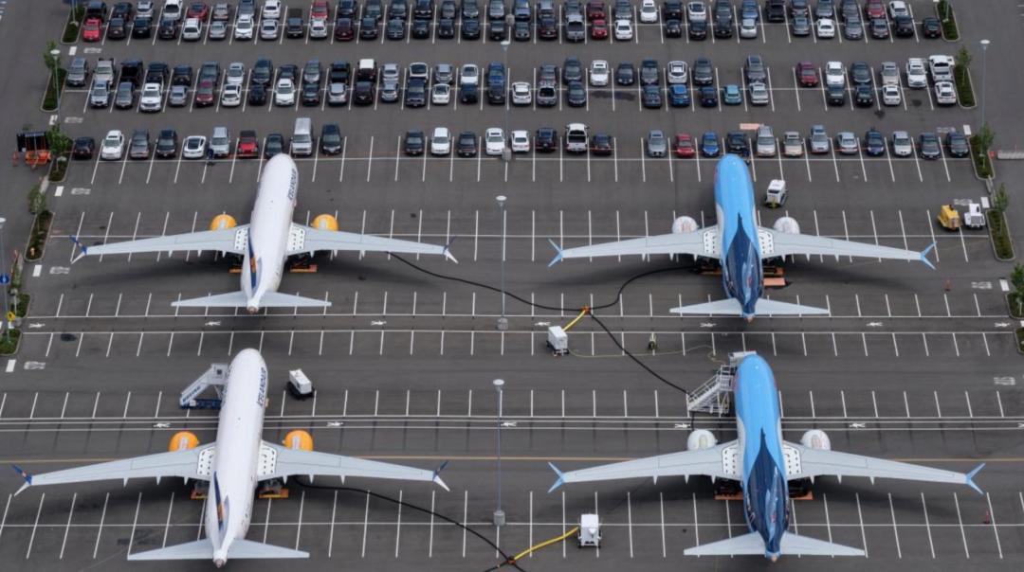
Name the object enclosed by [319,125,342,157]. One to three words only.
vehicle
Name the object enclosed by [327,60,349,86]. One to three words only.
truck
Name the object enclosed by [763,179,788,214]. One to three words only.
work vehicle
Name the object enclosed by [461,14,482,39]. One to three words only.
car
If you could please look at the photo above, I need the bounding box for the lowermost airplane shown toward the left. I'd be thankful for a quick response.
[14,347,451,569]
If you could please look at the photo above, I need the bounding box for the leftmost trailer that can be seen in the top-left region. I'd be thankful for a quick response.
[18,128,53,172]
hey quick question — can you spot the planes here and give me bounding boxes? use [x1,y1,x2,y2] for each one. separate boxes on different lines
[546,154,935,324]
[14,347,451,569]
[549,353,986,566]
[70,153,457,316]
